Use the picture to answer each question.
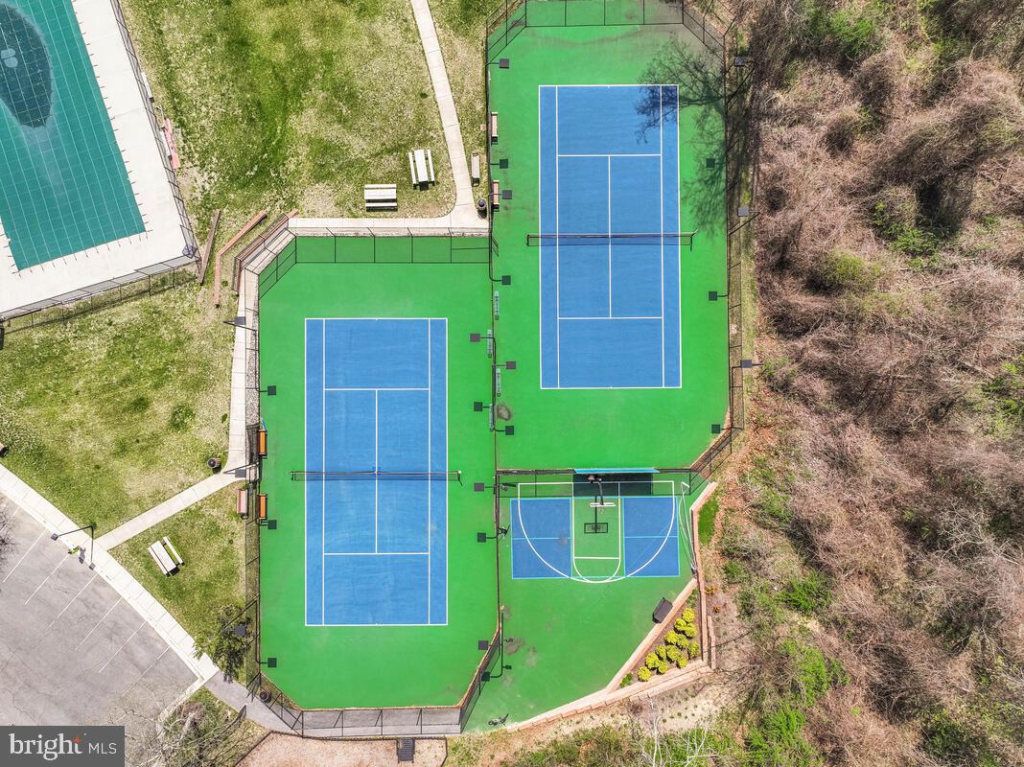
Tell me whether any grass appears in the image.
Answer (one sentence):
Yes, some grass is visible.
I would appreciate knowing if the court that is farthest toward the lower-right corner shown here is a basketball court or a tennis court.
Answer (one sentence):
From above, the court that is farthest toward the lower-right corner can be identified as a basketball court.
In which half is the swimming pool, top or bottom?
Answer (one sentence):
The top half of the photo is where the swimming pool is.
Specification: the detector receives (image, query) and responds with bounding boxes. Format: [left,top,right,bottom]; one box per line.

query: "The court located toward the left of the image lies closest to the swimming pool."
[259,236,499,712]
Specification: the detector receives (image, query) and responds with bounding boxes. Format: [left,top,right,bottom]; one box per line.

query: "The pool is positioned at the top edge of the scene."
[0,0,149,273]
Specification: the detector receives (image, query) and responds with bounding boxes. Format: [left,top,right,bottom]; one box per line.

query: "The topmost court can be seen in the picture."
[489,0,733,471]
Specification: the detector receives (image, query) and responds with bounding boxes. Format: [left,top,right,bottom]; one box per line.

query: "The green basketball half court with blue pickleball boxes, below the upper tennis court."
[460,469,712,734]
